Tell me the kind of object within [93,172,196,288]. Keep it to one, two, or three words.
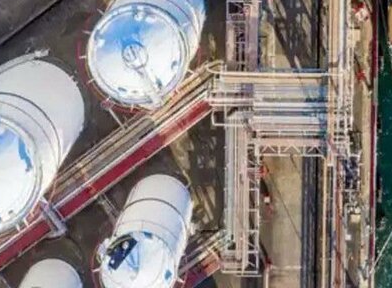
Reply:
storage tank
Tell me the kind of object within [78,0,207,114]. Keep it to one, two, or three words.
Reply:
storage tank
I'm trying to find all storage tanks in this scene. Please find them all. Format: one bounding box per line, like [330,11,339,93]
[0,55,85,239]
[19,258,86,288]
[93,172,196,288]
[78,0,207,114]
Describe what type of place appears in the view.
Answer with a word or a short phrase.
industrial area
